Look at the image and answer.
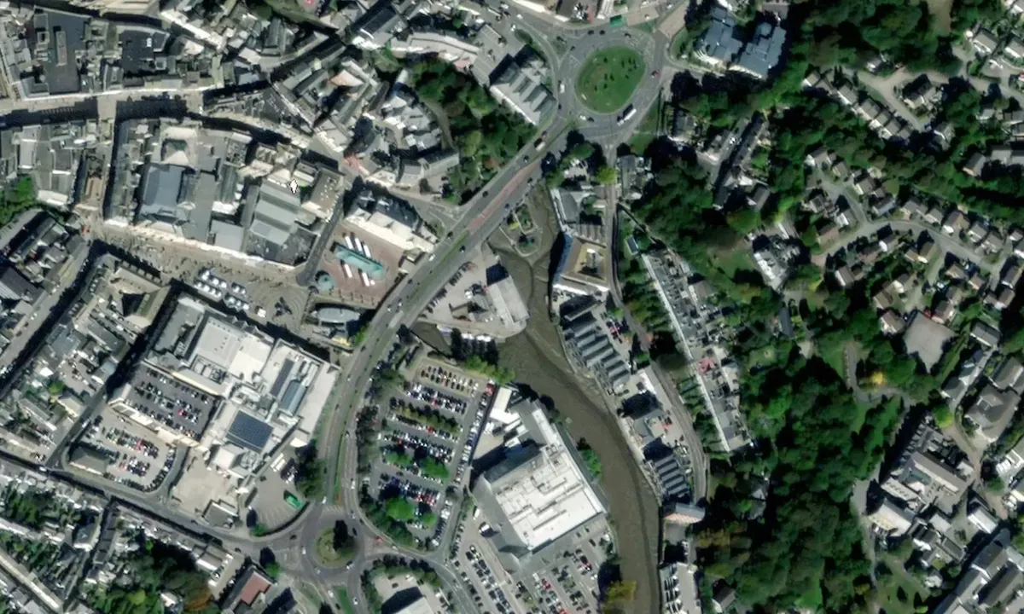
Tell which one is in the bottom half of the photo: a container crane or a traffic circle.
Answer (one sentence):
What appears in the bottom half of the photo is a traffic circle.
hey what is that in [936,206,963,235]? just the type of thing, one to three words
house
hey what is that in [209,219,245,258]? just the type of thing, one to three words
building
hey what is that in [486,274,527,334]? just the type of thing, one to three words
shed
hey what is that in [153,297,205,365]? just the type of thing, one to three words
building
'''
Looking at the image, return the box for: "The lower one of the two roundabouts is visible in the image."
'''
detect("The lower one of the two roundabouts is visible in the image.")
[301,511,370,581]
